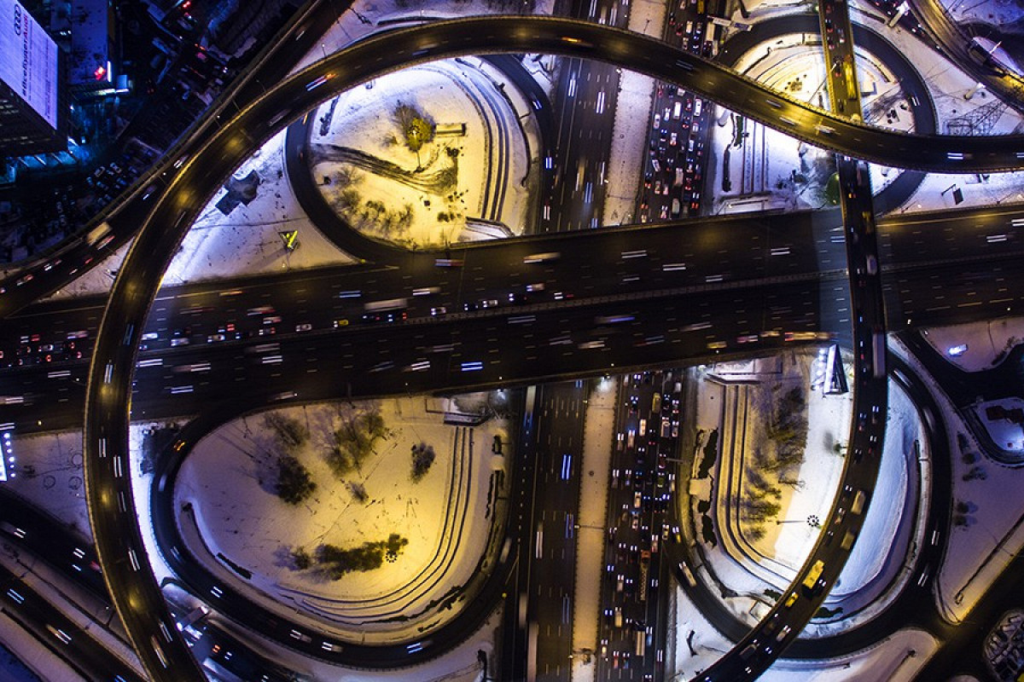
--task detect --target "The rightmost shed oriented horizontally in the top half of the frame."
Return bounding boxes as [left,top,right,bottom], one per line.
[436,121,464,134]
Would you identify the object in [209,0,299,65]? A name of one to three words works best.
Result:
building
